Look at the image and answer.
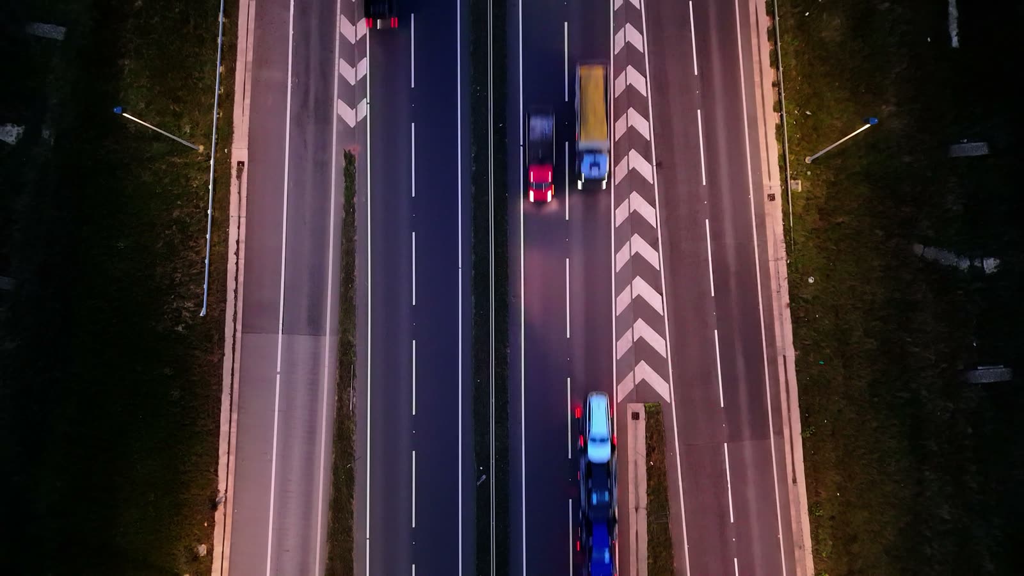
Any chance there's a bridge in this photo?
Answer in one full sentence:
No, this view has no bridge in it.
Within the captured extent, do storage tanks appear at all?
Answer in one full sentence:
No, this view has no storage tank in it.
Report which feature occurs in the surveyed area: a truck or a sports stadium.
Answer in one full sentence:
There is a truck in the scene.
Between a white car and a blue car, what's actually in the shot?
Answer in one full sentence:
The one in the frame is a blue car.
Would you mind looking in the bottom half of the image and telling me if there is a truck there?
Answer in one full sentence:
Yes, a truck shows up in the bottom half of the image.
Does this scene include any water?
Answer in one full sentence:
No, no water is visible.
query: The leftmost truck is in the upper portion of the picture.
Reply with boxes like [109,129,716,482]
[364,0,400,29]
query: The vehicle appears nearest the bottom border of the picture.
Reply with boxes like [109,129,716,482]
[584,522,613,576]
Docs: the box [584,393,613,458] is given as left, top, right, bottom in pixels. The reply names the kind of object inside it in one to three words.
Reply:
car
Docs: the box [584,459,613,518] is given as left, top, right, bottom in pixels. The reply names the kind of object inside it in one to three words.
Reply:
car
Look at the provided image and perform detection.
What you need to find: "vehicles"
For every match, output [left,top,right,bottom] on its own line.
[576,390,616,576]
[584,522,613,576]
[584,459,613,518]
[526,115,555,202]
[364,0,400,29]
[574,65,611,189]
[584,393,613,458]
